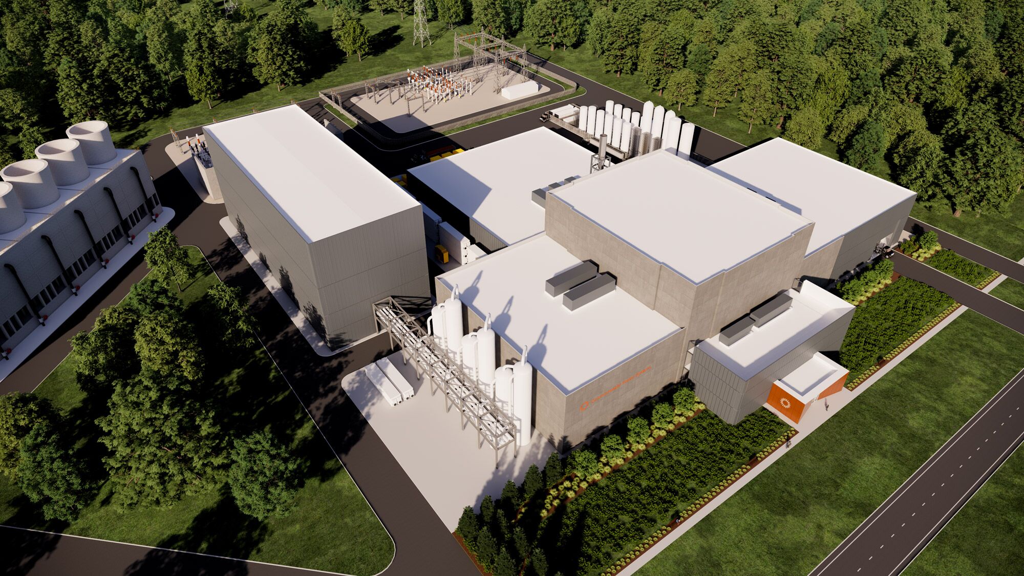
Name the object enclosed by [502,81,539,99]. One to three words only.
building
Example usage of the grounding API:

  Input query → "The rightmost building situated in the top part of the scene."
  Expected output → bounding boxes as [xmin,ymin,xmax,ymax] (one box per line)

[703,137,918,292]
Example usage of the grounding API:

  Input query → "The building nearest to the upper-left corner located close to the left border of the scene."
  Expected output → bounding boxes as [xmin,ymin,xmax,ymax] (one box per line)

[0,122,163,358]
